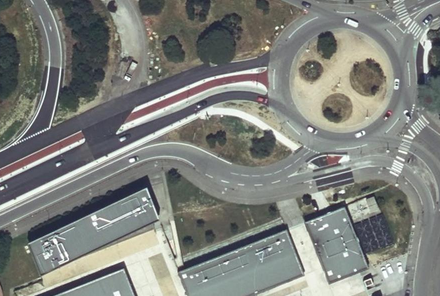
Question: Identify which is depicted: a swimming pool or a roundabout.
roundabout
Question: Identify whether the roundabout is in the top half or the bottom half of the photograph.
top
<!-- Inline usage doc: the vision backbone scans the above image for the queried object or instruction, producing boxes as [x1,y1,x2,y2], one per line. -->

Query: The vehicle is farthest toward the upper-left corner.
[125,62,137,80]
